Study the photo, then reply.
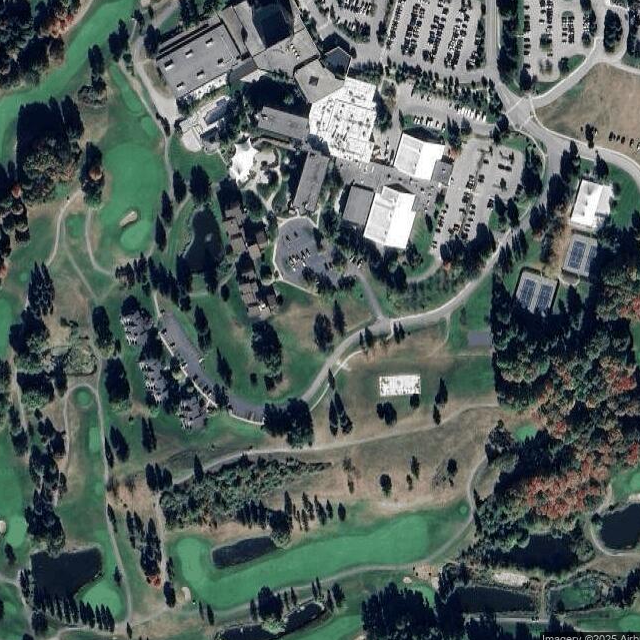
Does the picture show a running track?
No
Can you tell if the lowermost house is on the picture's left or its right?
left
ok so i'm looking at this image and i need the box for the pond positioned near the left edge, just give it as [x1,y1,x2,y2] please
[31,545,102,597]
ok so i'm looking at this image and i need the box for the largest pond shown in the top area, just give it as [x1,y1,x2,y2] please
[185,207,223,273]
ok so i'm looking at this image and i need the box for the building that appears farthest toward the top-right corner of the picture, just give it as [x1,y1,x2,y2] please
[572,180,615,229]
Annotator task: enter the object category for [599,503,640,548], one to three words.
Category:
pond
